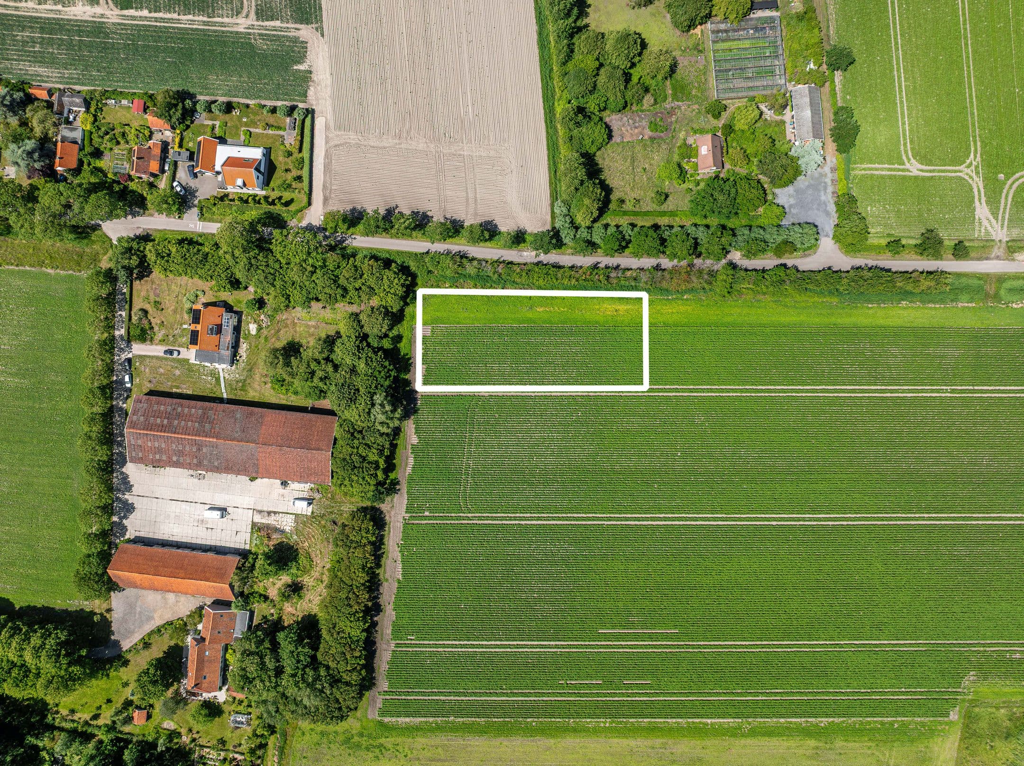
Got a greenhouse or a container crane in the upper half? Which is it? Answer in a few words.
greenhouse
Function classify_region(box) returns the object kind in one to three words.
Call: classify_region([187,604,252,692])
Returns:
house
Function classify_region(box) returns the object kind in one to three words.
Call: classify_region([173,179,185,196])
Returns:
vehicle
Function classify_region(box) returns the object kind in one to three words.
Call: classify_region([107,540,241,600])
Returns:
barn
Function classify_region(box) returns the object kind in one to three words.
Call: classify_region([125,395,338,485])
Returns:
barn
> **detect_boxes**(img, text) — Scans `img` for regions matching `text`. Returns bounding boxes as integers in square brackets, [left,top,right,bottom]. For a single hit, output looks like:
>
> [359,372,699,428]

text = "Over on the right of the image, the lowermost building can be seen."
[694,134,722,172]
